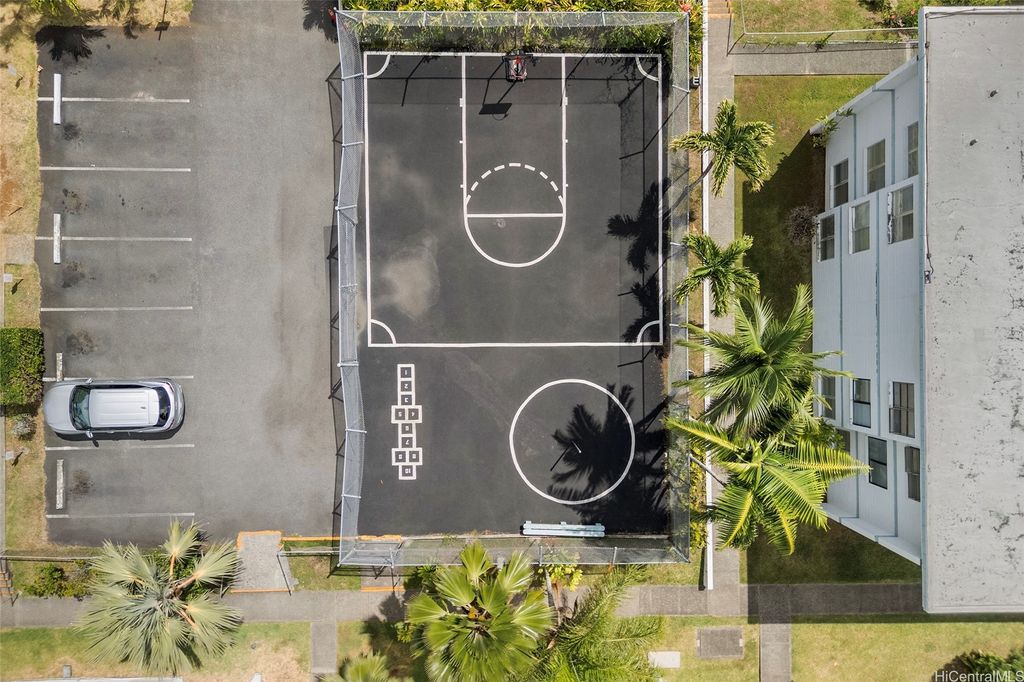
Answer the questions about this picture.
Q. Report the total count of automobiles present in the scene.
one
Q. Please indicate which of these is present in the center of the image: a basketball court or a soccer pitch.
basketball court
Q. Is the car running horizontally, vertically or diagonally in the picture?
horizontally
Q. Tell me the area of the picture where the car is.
left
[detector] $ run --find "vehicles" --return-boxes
[43,375,183,439]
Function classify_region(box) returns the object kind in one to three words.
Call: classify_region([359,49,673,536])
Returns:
basketball court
